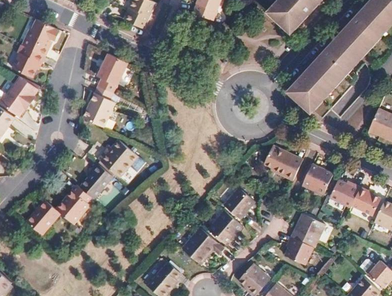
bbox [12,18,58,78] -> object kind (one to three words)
house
